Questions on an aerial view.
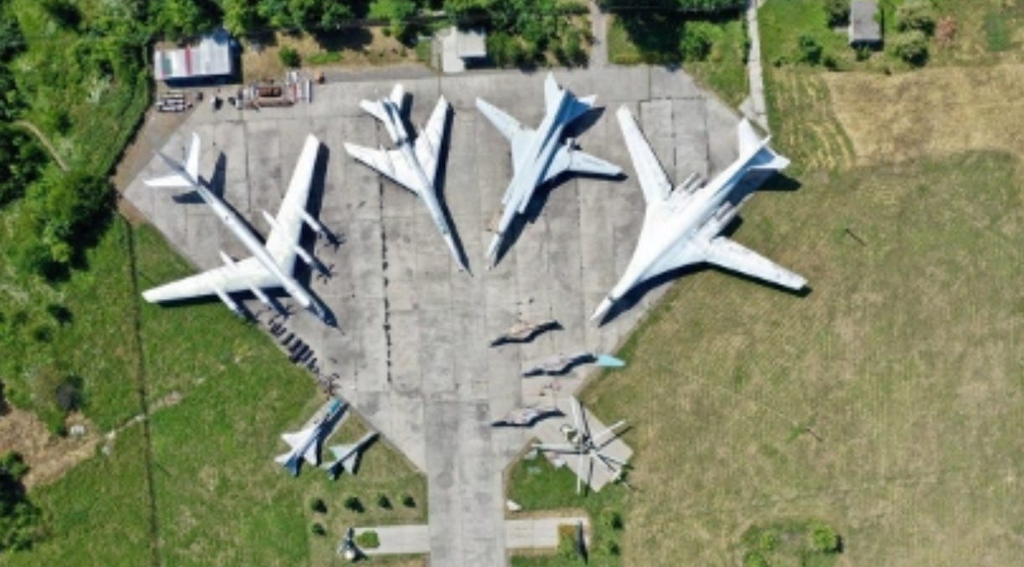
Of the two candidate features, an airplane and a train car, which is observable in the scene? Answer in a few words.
airplane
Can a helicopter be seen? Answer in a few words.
Yes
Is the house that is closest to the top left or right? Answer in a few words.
right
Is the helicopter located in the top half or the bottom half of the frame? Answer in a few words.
bottom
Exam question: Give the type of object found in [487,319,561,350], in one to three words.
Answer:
airplane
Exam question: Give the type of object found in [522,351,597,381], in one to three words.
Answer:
airplane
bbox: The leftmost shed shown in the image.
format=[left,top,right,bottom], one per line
[155,33,234,81]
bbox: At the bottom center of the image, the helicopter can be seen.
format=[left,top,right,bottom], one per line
[534,398,629,492]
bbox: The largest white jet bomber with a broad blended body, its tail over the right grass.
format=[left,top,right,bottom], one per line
[592,103,807,319]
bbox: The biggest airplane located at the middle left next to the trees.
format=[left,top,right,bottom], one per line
[143,132,336,325]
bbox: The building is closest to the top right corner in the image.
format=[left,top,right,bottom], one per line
[846,0,880,42]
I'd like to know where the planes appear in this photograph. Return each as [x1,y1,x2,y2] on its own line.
[475,74,626,268]
[522,351,597,381]
[143,132,336,325]
[341,78,470,275]
[320,430,381,480]
[487,319,561,350]
[592,103,807,319]
[273,398,345,477]
[488,403,562,434]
